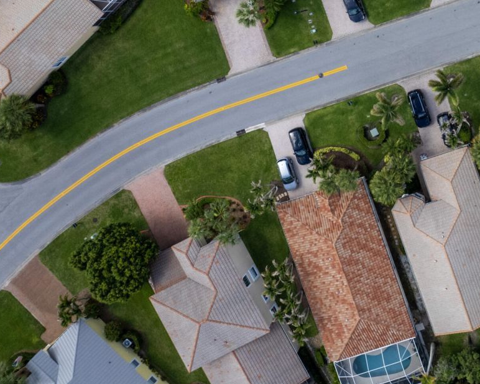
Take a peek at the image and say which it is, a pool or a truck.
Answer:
pool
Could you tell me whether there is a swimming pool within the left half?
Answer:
No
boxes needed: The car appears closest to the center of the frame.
[275,155,301,191]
